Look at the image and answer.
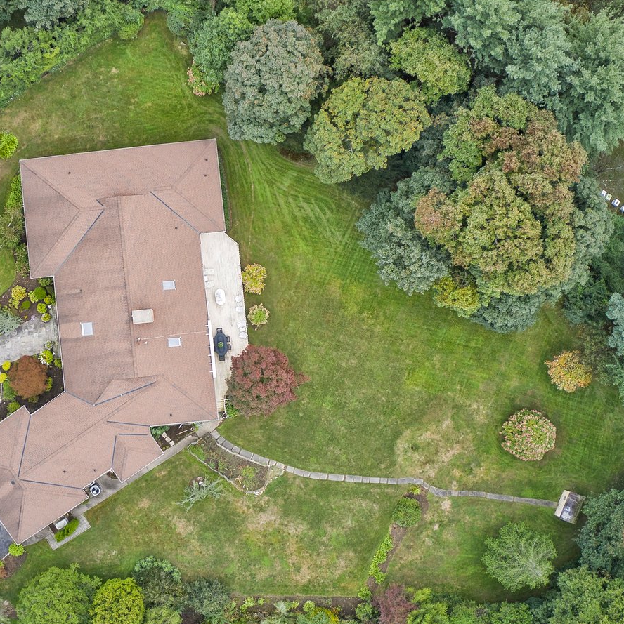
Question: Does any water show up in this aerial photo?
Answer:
No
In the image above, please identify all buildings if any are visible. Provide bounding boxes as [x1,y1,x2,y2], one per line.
[0,137,226,546]
[555,490,584,524]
